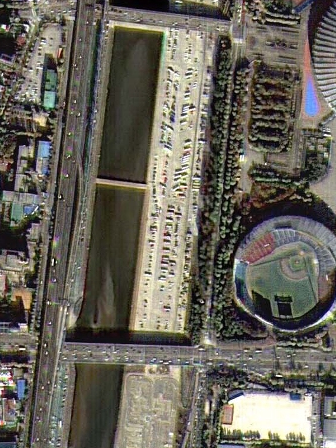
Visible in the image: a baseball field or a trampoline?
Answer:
baseball field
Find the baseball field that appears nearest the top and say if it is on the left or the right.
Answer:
right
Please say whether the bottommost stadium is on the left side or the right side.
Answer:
right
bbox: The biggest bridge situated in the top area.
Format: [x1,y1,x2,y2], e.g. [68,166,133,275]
[20,5,240,34]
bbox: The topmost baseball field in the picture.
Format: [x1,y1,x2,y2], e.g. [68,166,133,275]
[245,235,325,323]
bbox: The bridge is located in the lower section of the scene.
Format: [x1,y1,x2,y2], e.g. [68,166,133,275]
[38,342,213,367]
